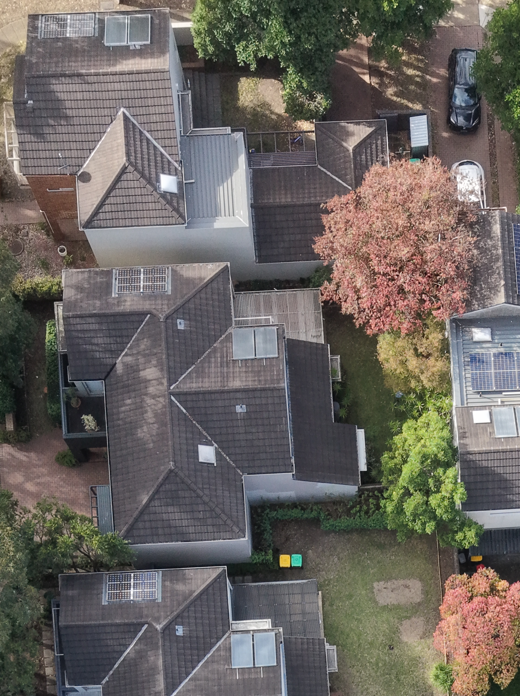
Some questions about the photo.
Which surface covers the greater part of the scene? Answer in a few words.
buildings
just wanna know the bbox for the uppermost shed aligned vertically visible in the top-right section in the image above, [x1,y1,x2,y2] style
[410,115,428,163]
